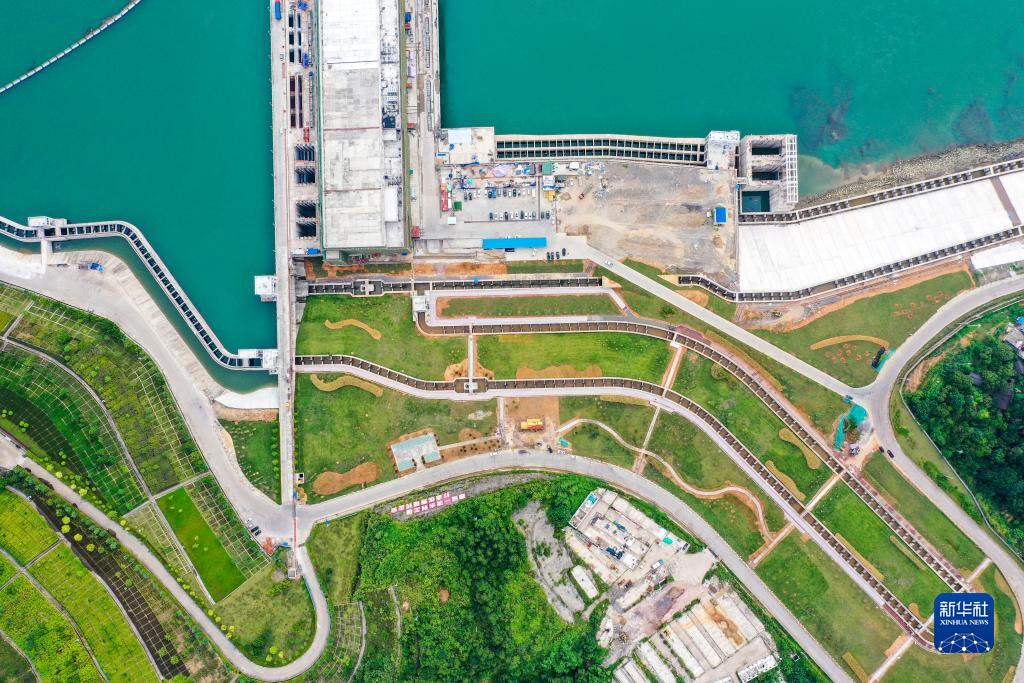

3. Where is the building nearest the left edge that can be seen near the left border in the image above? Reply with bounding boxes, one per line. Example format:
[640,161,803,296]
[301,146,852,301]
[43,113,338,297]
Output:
[27,216,76,243]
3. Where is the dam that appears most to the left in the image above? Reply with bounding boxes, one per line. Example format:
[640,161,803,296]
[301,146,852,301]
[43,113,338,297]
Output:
[270,0,324,505]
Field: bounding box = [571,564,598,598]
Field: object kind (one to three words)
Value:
house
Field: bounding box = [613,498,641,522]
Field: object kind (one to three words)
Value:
shed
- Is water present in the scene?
Yes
